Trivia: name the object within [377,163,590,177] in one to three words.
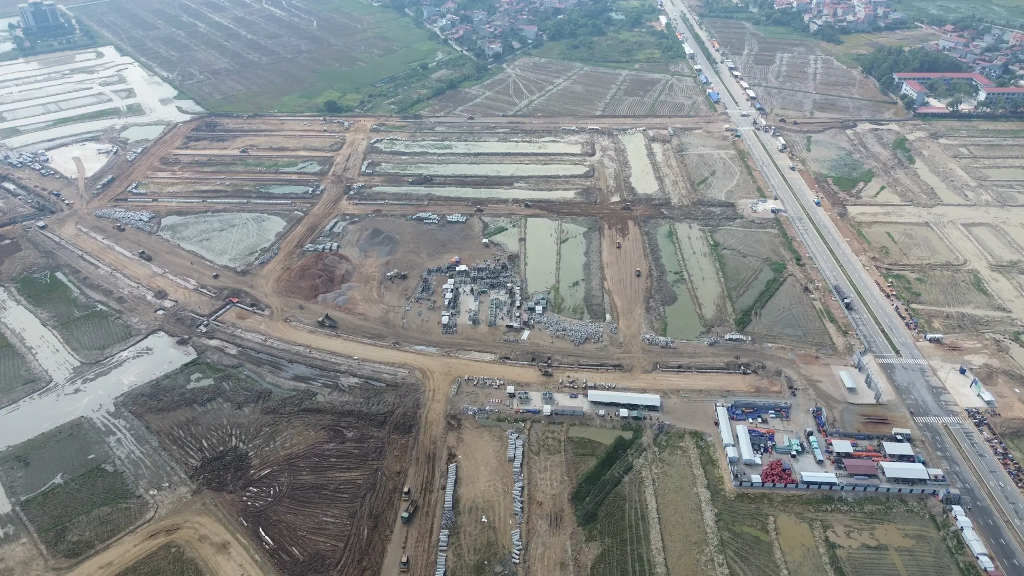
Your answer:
pond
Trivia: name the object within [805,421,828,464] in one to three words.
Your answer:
truck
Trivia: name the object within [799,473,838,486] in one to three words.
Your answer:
shed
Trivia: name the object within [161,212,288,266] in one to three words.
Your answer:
pond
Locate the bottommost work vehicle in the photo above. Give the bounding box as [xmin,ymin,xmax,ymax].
[398,551,410,573]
